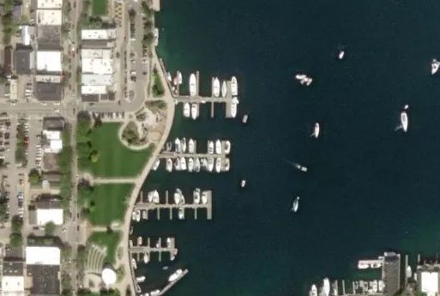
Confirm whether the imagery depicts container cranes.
No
